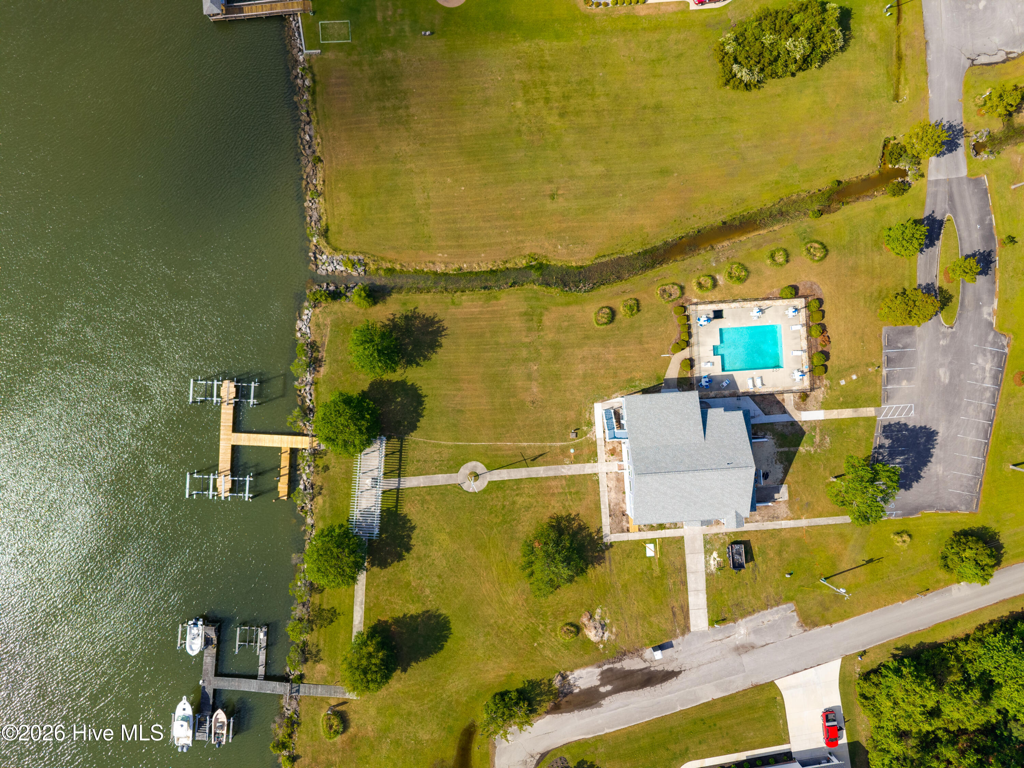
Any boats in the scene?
Yes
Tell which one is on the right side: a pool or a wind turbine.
pool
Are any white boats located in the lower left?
Yes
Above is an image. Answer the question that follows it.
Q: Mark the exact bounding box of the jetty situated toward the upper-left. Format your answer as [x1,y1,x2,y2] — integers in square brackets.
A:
[208,0,312,25]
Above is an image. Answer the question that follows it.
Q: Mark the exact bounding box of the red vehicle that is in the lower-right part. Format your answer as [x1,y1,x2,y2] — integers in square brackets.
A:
[819,709,838,747]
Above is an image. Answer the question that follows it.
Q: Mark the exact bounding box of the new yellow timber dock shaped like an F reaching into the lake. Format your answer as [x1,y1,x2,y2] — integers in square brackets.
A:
[217,380,327,502]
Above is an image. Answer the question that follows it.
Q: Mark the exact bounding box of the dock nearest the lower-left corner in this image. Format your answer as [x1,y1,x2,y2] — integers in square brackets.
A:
[197,622,359,740]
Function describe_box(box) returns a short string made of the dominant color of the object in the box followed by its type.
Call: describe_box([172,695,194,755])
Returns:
white boat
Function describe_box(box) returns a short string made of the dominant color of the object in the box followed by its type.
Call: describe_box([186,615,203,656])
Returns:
white boat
